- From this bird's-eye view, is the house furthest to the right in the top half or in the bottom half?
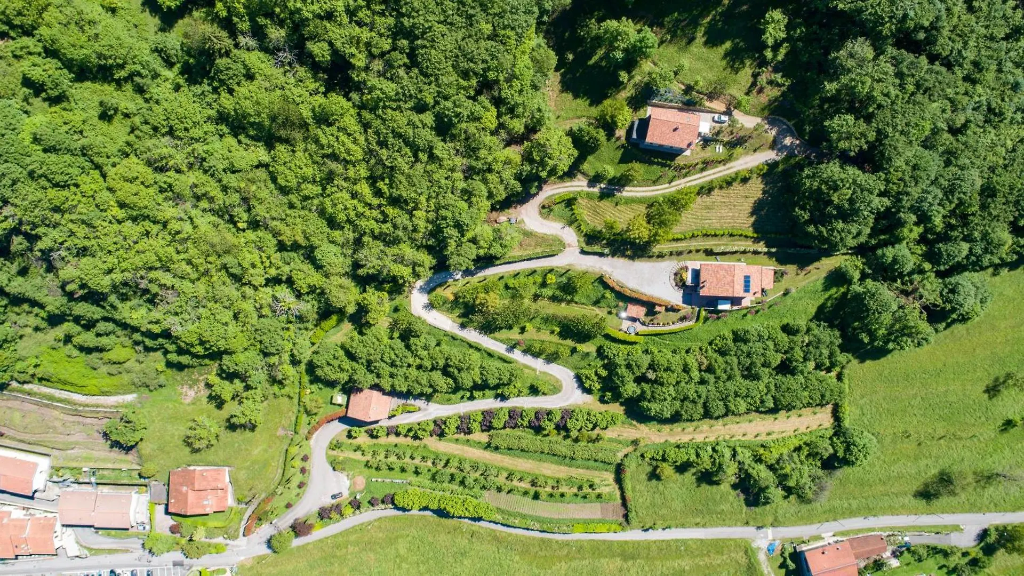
bottom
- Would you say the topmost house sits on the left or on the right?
right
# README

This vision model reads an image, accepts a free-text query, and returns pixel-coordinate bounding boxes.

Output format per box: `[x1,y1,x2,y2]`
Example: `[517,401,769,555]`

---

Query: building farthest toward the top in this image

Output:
[644,107,700,152]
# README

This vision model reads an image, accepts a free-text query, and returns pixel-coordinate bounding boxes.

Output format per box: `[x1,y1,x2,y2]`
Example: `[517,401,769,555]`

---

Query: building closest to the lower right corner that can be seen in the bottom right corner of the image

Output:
[799,533,887,576]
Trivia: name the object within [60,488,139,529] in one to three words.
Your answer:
house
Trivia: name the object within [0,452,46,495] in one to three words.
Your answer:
house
